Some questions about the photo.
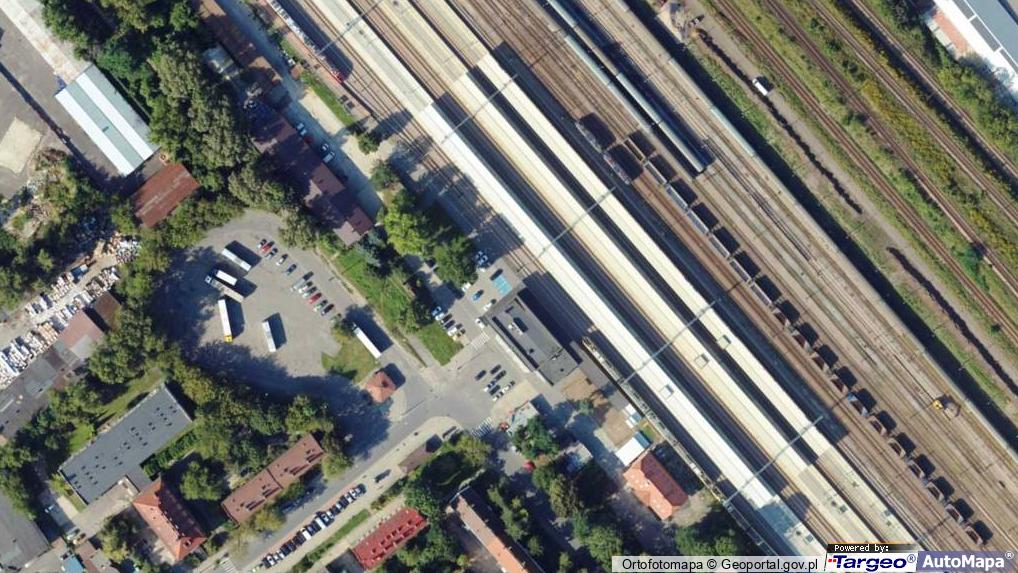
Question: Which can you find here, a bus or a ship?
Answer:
bus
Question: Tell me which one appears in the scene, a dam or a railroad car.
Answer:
railroad car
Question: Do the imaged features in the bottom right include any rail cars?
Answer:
Yes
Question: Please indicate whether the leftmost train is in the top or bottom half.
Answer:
top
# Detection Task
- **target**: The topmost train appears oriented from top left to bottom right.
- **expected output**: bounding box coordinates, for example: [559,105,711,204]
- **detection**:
[267,0,348,85]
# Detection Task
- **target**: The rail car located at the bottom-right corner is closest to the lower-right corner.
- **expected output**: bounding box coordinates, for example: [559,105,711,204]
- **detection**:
[964,522,985,546]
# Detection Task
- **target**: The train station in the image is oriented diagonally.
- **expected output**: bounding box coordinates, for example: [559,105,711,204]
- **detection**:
[486,293,579,389]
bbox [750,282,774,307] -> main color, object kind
gray rail car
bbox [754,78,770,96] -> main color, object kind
white vehicle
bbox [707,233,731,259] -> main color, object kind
gray rail car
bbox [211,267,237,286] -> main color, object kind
white vehicle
